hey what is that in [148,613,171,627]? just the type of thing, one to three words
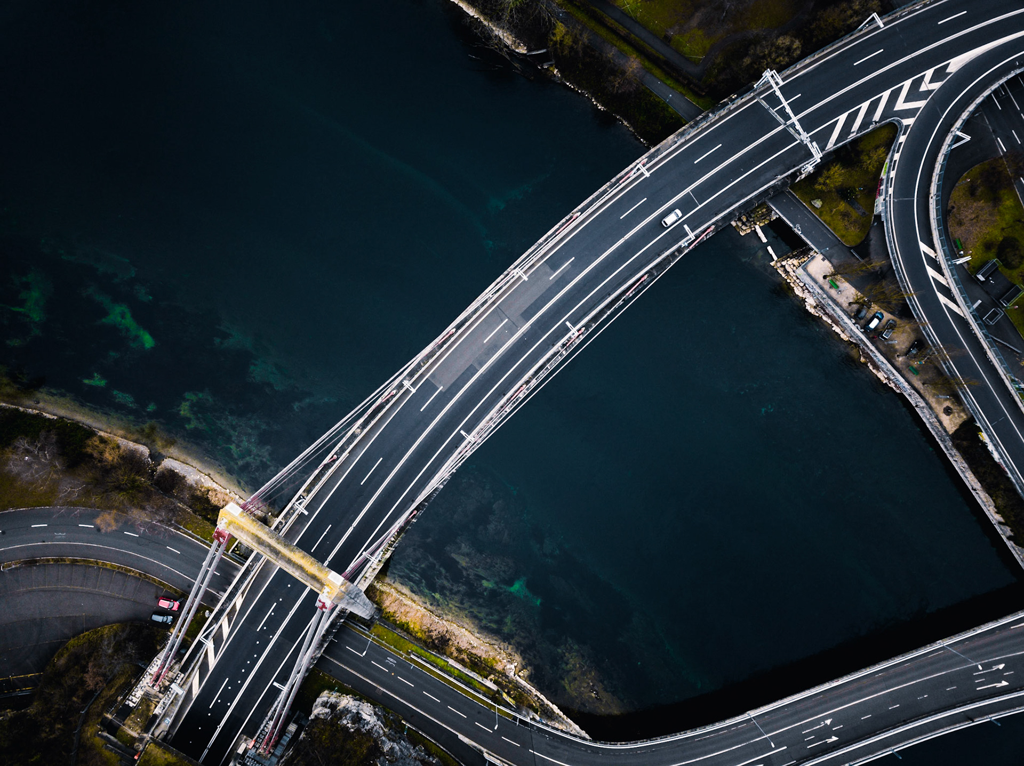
car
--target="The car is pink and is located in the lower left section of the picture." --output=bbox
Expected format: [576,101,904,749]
[155,598,178,612]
